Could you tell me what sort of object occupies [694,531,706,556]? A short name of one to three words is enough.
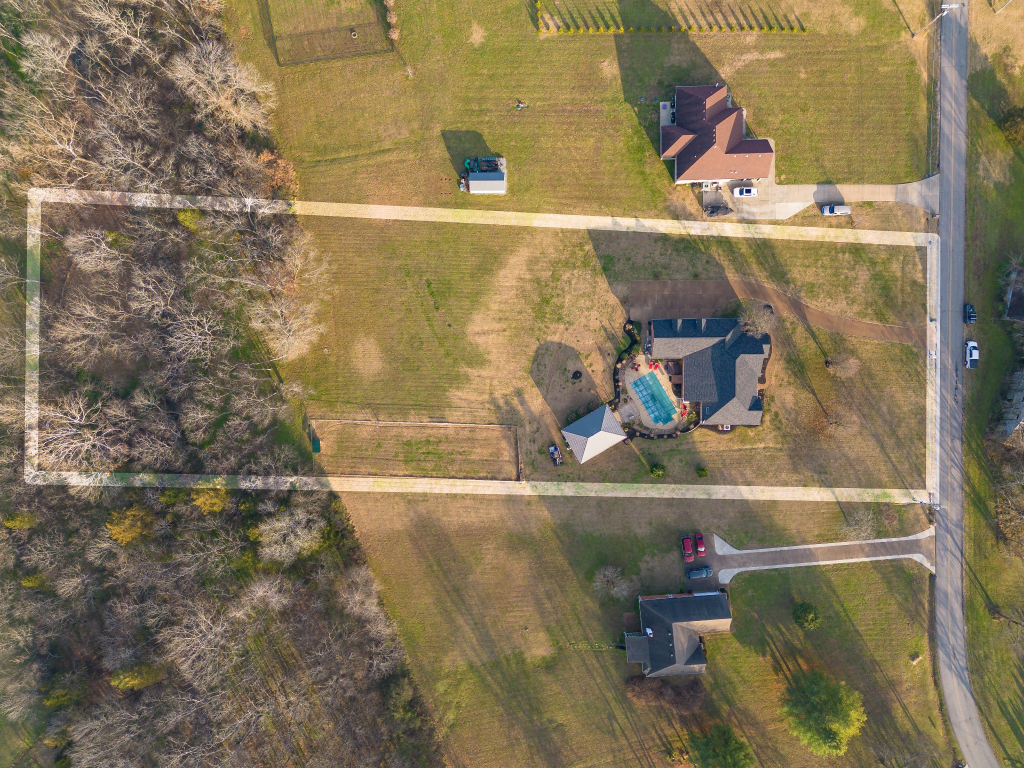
vehicle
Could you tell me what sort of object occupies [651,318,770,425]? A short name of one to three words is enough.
house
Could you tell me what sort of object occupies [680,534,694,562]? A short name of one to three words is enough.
vehicle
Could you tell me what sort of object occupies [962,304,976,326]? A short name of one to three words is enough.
car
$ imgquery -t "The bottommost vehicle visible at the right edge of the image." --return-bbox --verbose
[964,340,979,369]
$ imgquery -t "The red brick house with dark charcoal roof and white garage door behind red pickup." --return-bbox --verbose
[624,592,732,677]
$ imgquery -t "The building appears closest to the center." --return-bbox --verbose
[561,404,627,464]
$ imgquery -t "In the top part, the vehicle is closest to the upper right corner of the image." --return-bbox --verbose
[821,204,852,216]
